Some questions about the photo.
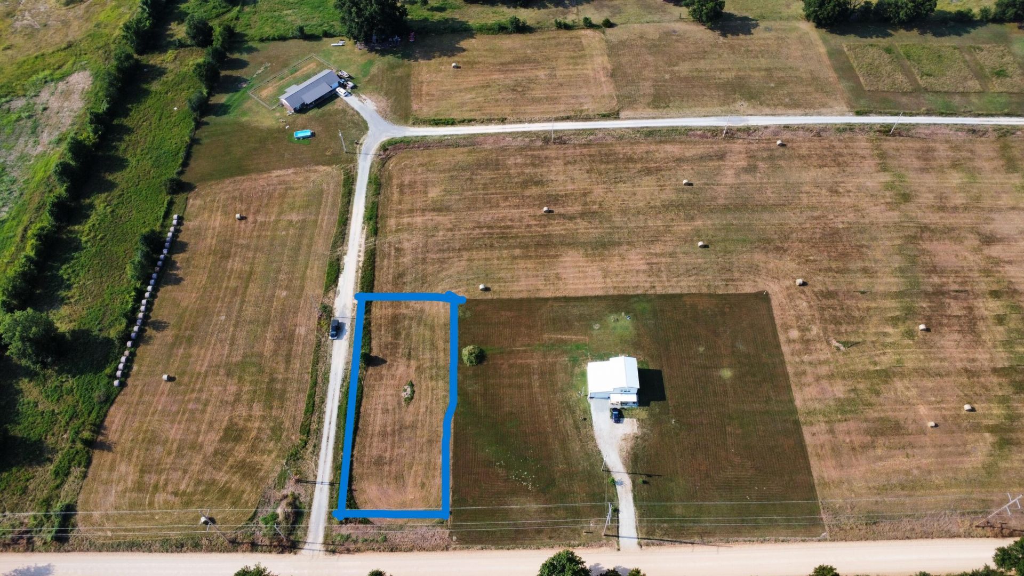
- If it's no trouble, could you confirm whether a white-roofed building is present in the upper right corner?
No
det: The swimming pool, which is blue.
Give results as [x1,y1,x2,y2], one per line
[294,129,313,142]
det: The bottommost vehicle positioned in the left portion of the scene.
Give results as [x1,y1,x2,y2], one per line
[328,319,340,339]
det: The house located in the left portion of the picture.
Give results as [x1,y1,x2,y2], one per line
[279,70,345,113]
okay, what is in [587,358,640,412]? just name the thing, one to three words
house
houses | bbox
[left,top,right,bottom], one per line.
[587,358,640,412]
[279,70,345,113]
